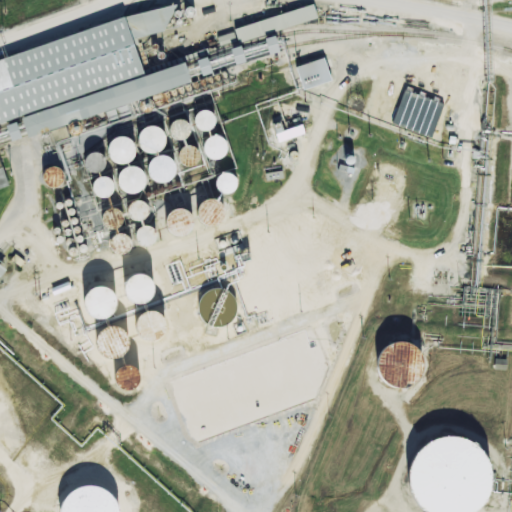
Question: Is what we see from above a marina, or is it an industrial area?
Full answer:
The area seen from above is an industrial area.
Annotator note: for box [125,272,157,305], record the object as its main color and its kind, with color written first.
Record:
white storage tank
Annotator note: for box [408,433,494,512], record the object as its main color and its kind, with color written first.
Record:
white storage tank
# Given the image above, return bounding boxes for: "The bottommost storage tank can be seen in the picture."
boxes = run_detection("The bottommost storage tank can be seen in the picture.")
[60,483,120,512]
